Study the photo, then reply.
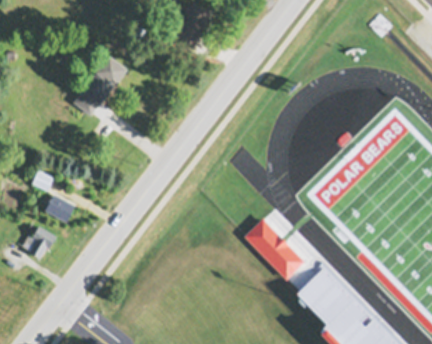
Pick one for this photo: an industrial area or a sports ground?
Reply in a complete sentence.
The picture captures a sports ground.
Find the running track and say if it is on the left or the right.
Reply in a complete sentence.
It is on the right.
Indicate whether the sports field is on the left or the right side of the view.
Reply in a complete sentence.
The sports field is on the right side of the image.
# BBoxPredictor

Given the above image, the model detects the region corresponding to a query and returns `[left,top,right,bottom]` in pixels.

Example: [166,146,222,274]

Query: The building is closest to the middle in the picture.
[244,220,304,280]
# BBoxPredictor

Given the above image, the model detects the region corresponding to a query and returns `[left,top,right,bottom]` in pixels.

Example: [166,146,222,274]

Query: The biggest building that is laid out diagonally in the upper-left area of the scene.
[72,58,128,117]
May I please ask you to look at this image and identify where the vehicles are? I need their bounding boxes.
[104,126,112,136]
[10,250,21,258]
[112,214,122,226]
[4,260,14,269]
